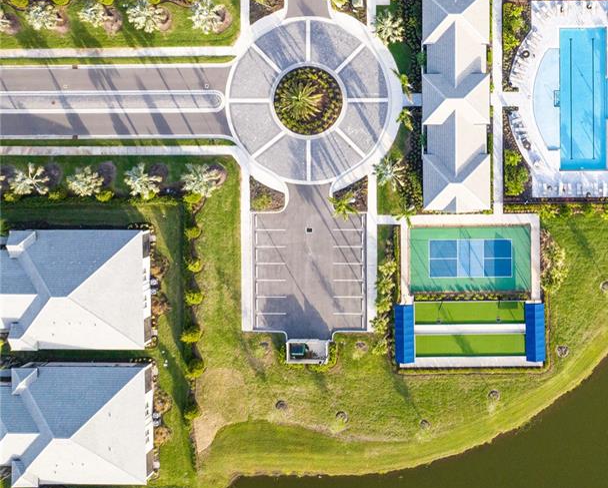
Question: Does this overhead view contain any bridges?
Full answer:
No, the photo shows no bridge.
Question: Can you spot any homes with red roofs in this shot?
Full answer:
No, there is no home with a red roof in the image.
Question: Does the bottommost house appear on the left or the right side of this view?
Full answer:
The bottommost house sits on the left side.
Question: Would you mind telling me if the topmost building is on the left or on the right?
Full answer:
The topmost building appears in the right half of the scene.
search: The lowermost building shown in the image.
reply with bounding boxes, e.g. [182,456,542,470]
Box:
[0,361,153,486]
